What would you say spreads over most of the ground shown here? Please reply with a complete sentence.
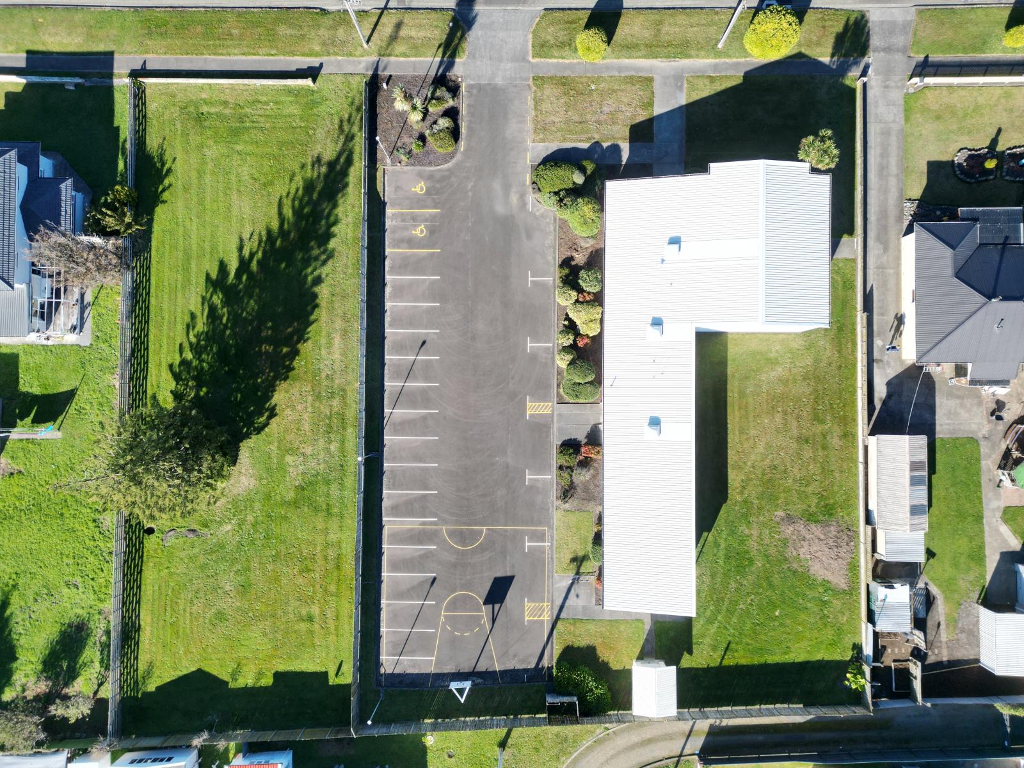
What you mostly see from above here is grass.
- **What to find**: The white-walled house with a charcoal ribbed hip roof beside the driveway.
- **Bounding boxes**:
[902,209,1024,387]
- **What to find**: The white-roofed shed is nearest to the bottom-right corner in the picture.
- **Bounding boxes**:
[964,601,1024,672]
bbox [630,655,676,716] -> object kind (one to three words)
shed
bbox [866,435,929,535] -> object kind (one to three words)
shed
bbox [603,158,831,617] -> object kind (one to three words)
building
